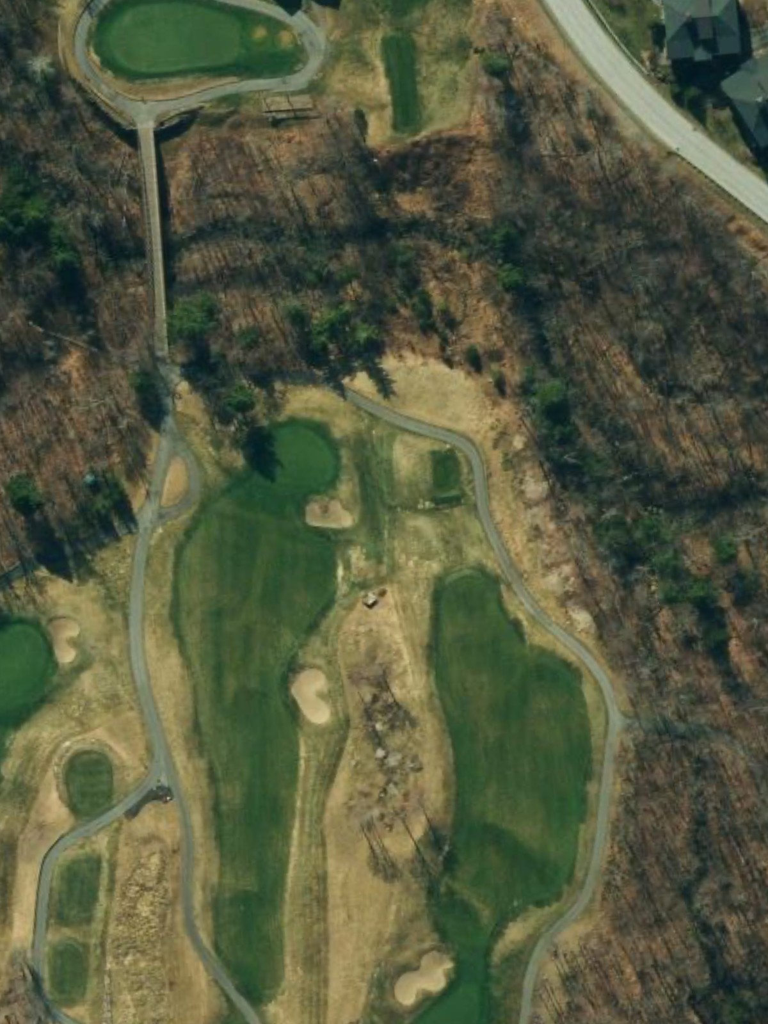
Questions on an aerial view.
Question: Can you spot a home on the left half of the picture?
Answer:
No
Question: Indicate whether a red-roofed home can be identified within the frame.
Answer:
No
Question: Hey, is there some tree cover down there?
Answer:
Yes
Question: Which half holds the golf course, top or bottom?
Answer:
bottom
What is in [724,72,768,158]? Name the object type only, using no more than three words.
house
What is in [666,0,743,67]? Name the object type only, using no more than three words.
house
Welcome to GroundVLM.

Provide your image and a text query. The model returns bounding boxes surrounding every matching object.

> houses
[666,0,743,67]
[724,72,768,158]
